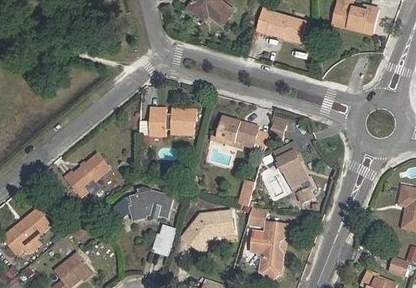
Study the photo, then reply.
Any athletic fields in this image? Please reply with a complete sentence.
No, the picture doesn't show any athletic field.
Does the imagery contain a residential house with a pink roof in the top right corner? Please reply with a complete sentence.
No, the scene shows no residential house with a pink roof in the top right corner.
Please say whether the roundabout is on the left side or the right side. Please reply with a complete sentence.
It is on the right.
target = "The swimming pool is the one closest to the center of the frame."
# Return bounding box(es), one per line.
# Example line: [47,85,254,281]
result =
[210,150,232,166]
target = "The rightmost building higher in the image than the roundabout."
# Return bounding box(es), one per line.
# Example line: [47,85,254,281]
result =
[332,0,380,36]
